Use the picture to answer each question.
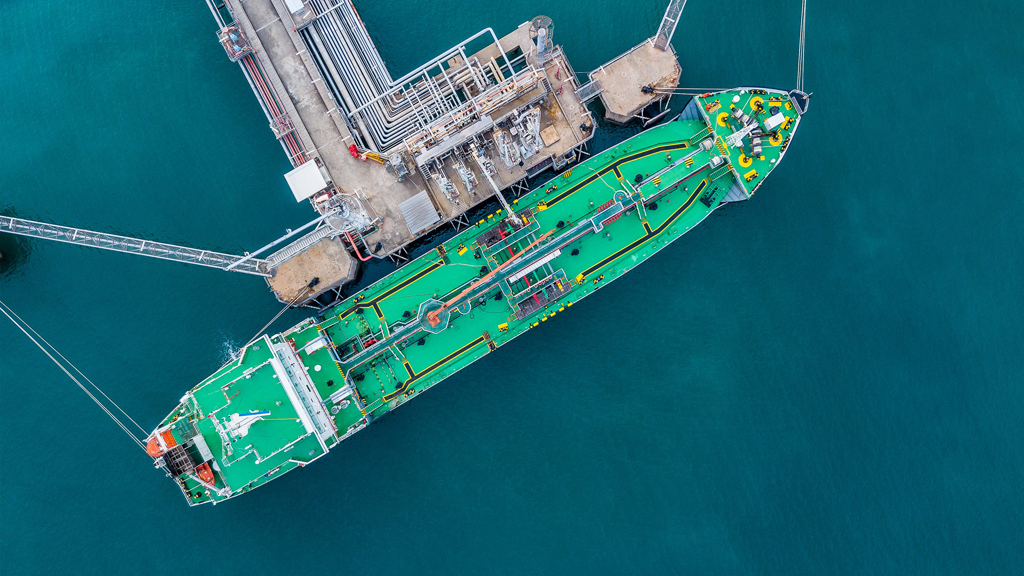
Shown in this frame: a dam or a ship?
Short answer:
ship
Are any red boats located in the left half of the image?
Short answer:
Yes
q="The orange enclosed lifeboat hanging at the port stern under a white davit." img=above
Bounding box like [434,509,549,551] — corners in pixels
[141,429,179,457]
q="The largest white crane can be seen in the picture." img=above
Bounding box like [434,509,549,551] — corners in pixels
[224,190,371,271]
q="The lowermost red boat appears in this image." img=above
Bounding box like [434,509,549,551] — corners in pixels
[190,460,216,488]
